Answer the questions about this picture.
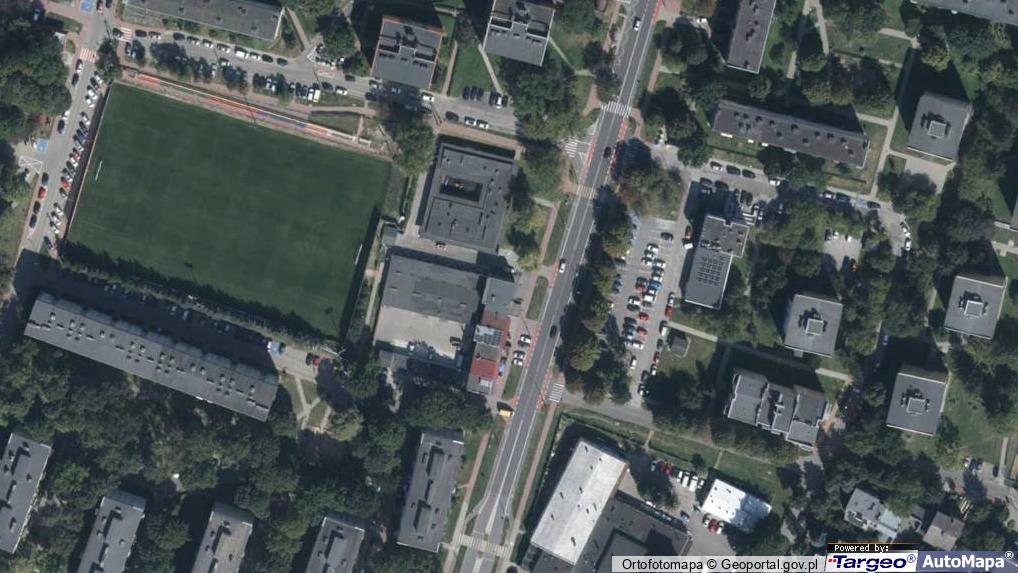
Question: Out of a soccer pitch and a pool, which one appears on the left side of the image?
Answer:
soccer pitch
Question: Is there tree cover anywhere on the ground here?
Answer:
Yes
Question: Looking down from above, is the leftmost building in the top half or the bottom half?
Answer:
bottom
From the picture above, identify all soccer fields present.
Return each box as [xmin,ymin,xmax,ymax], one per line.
[64,84,393,337]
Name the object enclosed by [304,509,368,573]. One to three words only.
building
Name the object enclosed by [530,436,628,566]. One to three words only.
building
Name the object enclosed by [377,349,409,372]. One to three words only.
shed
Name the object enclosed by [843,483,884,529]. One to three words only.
house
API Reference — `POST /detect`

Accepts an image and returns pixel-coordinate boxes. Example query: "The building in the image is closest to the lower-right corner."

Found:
[921,508,967,558]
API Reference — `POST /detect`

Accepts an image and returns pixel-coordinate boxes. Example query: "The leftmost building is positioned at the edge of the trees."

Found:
[0,425,56,553]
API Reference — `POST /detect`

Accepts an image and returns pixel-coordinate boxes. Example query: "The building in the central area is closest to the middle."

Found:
[483,273,519,316]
